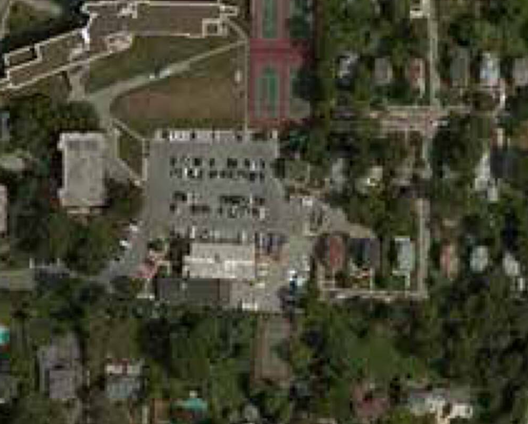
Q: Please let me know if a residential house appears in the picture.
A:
Yes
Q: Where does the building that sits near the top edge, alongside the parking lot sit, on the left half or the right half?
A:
left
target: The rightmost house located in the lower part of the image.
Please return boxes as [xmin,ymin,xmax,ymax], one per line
[501,251,520,275]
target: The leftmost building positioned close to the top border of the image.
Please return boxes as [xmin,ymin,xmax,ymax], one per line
[0,1,236,90]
